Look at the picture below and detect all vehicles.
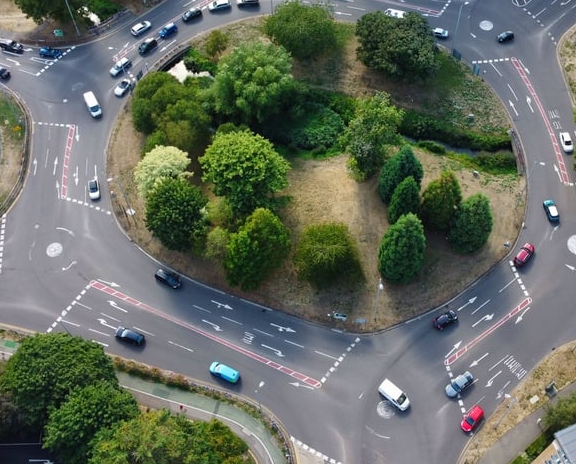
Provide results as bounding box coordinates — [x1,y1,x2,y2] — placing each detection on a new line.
[152,268,185,290]
[38,46,62,58]
[130,21,152,35]
[82,88,103,118]
[111,76,135,97]
[457,401,488,434]
[0,64,14,78]
[543,199,560,223]
[182,6,203,21]
[494,29,516,44]
[207,0,232,12]
[431,309,460,330]
[114,327,148,348]
[428,26,450,39]
[0,39,25,54]
[558,132,574,153]
[108,57,134,76]
[443,370,475,397]
[158,22,180,38]
[87,177,102,201]
[236,0,260,7]
[514,243,536,268]
[208,362,241,384]
[374,374,413,414]
[136,35,161,54]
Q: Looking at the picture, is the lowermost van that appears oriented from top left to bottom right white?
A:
Yes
